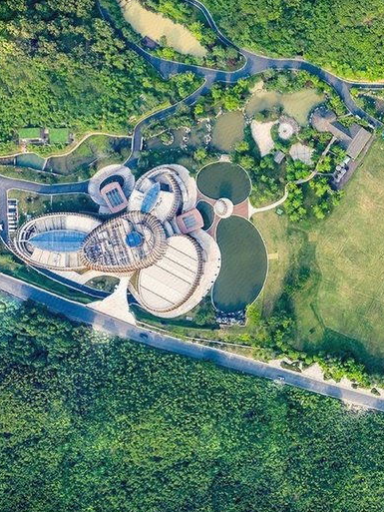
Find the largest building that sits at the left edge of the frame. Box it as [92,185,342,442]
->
[14,212,98,270]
